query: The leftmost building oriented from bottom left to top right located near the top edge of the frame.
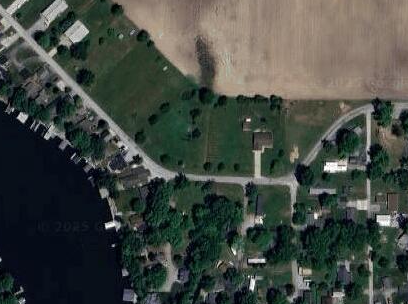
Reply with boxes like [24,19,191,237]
[42,0,68,25]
